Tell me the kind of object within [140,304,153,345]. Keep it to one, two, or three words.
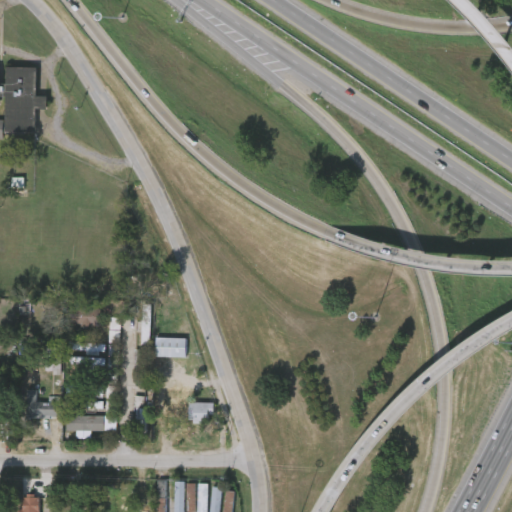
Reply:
house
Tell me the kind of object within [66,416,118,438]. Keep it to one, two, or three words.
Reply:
house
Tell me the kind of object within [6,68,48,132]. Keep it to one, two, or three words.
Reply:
building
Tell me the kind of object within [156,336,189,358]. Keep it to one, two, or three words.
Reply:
barn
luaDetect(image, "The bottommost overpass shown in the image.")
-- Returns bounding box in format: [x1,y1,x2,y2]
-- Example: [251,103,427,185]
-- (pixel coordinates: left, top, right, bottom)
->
[312,311,512,512]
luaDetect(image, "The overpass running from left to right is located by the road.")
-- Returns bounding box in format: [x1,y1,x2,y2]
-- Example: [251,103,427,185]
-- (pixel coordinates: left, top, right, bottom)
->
[328,228,512,276]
